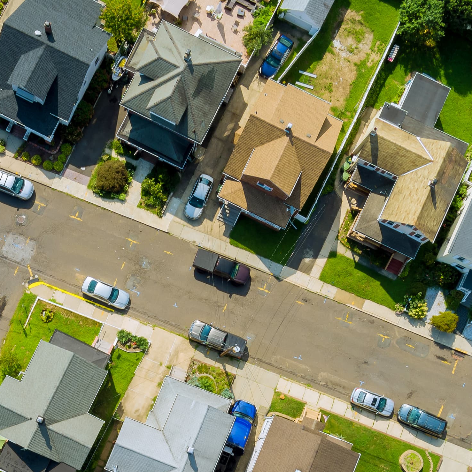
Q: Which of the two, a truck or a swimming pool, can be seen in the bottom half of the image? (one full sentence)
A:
There is a truck in the bottom half of the image.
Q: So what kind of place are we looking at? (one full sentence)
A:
The picture captures a residential area.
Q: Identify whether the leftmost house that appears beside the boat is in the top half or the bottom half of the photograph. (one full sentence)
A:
It is in the top half that the leftmost house that appears beside the boat appears.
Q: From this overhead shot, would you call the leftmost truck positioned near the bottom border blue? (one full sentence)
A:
Yes, the leftmost truck positioned near the bottom border is blue.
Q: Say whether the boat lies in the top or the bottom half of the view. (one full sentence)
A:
You can find the boat in the top half.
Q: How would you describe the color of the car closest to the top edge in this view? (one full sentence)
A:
The car closest to the top edge looks blue in the image.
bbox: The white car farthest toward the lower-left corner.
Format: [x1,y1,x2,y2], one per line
[80,277,131,309]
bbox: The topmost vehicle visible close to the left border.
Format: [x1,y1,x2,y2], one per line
[0,170,35,201]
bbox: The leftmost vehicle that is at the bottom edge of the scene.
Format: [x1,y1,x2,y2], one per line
[216,395,261,472]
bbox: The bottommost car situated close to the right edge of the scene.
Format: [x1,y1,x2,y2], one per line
[395,405,450,438]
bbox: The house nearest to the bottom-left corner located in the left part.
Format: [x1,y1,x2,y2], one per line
[0,328,111,472]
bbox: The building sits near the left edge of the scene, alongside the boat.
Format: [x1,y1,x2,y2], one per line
[0,0,113,150]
